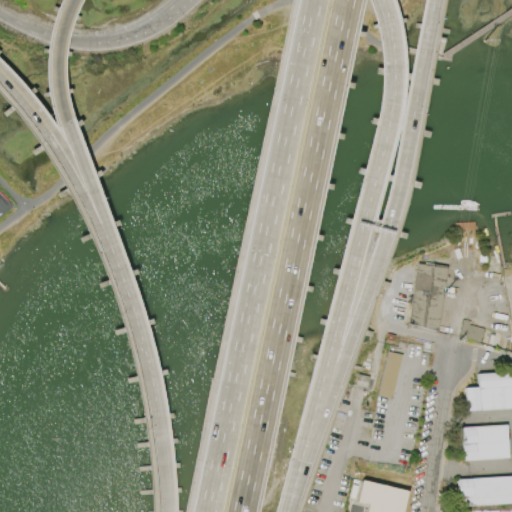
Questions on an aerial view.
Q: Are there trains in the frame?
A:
No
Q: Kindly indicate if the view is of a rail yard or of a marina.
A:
marina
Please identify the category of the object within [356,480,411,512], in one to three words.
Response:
building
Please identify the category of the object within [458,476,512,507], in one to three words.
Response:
building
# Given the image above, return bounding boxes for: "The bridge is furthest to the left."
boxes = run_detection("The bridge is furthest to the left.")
[0,0,182,512]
